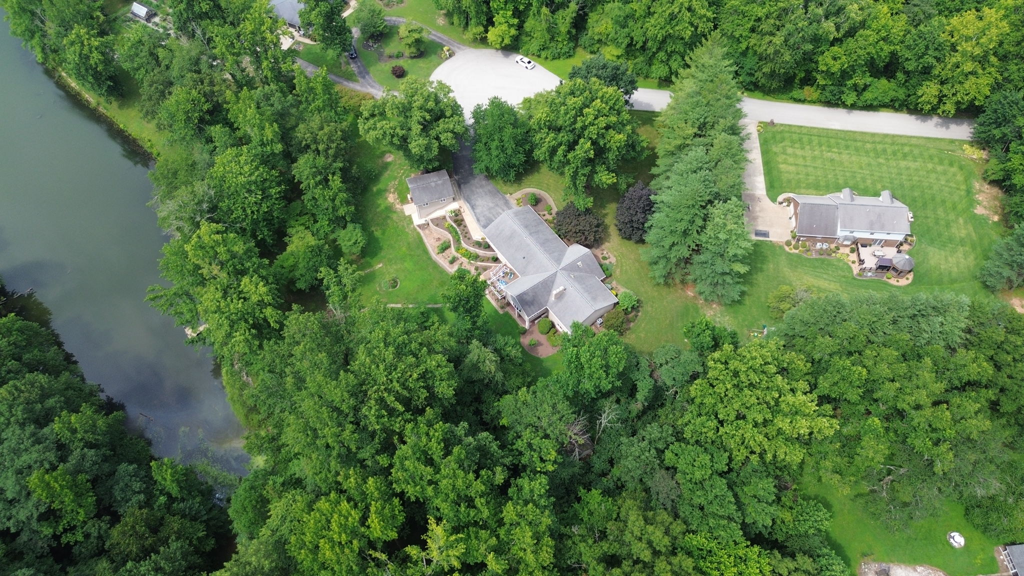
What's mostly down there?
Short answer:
trees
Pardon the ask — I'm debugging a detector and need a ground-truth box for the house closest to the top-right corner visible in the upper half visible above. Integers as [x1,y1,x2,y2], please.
[786,185,917,252]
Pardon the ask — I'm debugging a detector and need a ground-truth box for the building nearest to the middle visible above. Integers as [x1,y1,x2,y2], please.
[482,206,619,339]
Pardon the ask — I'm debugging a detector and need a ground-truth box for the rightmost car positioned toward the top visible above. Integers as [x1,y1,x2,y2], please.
[514,55,535,69]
